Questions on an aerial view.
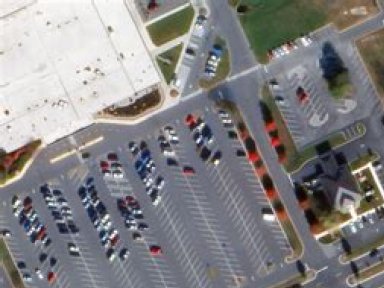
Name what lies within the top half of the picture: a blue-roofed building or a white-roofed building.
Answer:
white-roofed building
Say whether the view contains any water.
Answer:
No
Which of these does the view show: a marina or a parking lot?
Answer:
parking lot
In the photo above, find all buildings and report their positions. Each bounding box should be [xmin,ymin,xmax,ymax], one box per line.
[316,150,361,213]
[0,0,160,155]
